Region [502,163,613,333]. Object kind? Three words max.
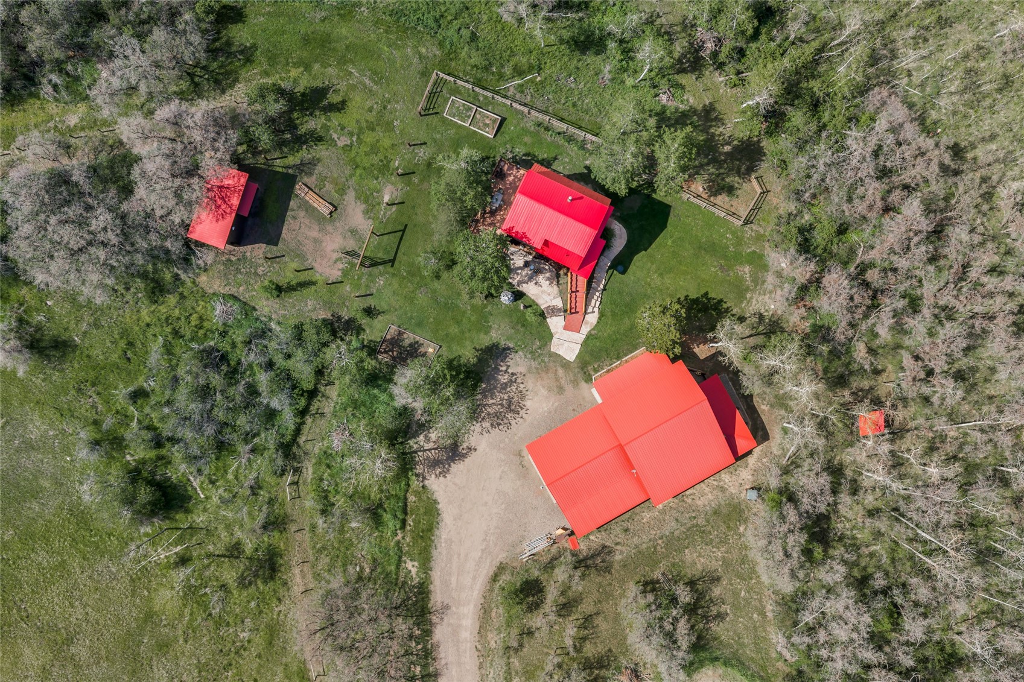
house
